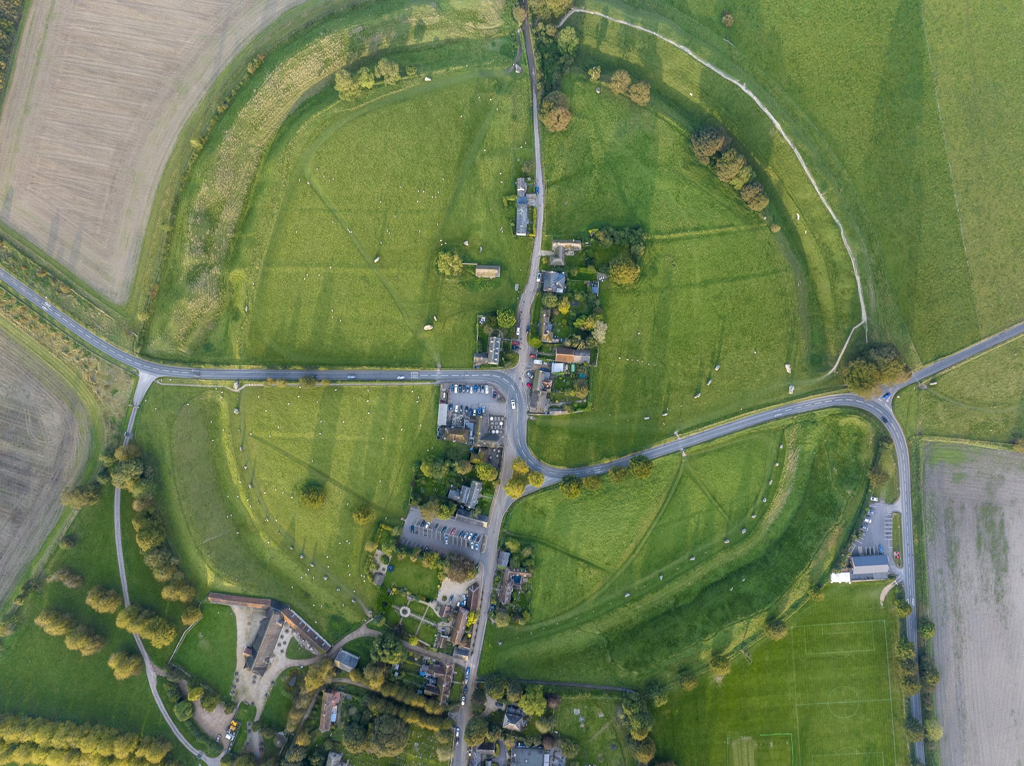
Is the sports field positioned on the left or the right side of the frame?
right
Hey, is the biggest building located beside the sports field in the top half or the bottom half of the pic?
bottom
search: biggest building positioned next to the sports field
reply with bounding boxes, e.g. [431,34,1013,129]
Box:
[841,553,892,580]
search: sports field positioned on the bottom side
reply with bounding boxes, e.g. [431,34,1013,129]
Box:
[645,582,909,766]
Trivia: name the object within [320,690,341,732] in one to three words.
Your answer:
house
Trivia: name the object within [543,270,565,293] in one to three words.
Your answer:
house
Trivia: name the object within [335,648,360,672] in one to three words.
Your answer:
shed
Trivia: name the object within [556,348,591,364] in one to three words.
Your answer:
barn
